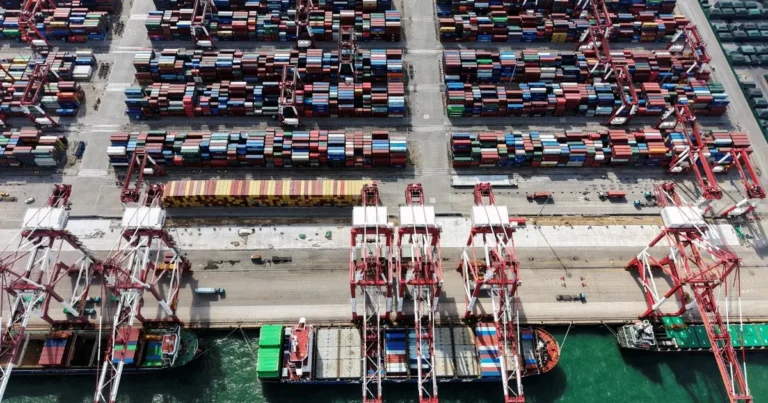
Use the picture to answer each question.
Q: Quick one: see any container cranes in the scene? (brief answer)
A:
Yes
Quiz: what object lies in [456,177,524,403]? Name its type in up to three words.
container crane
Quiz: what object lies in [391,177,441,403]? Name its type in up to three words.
container crane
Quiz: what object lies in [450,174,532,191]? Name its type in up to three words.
shed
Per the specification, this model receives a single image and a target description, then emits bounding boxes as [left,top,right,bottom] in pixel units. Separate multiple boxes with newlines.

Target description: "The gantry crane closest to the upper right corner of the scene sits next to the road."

[668,26,714,83]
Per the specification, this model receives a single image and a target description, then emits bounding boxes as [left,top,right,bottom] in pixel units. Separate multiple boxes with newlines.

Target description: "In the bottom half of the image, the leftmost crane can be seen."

[0,181,104,403]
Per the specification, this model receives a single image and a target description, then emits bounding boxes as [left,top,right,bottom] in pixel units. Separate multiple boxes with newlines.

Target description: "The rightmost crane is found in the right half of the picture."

[711,147,768,216]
